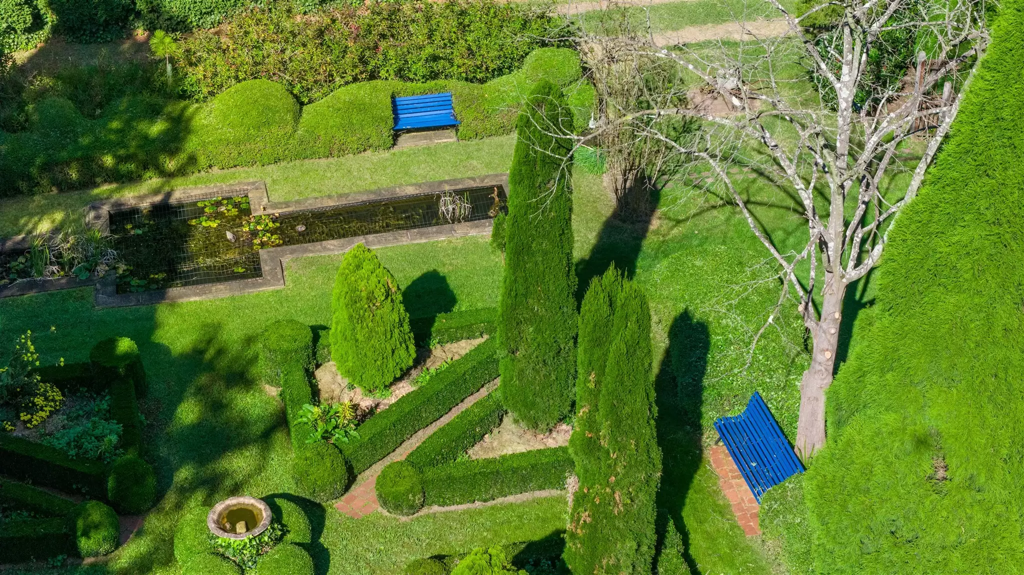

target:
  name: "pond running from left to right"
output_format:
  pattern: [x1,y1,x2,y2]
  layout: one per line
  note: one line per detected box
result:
[0,171,512,310]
